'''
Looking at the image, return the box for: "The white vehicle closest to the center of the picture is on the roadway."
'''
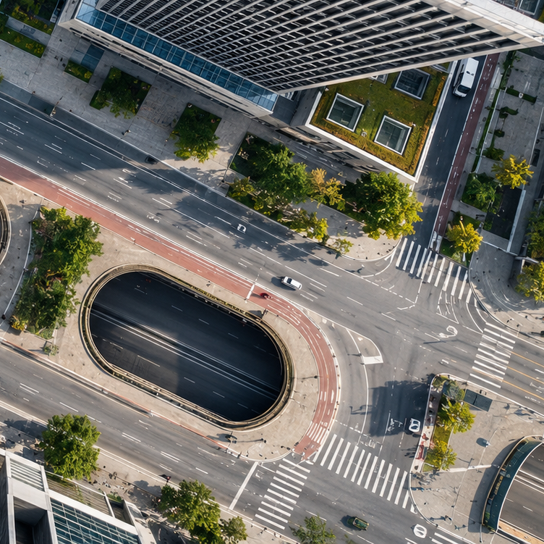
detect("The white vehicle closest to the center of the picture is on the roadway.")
[281,275,301,290]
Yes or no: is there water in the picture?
No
